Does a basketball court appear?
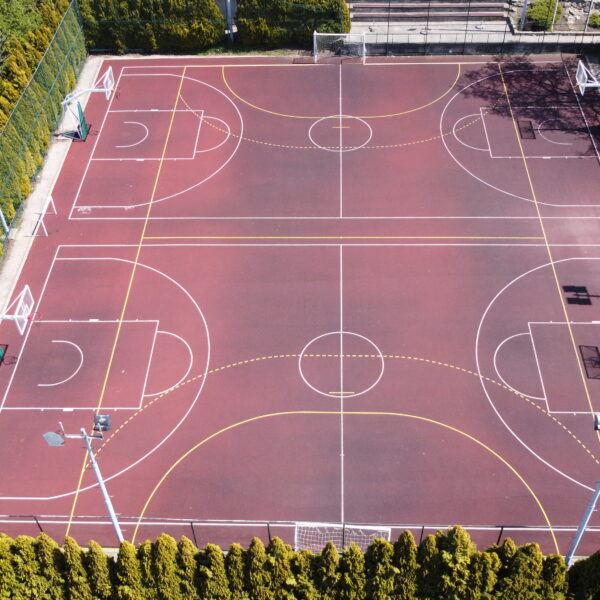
Yes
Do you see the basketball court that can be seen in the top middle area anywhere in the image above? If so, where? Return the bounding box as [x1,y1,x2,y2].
[38,53,600,231]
